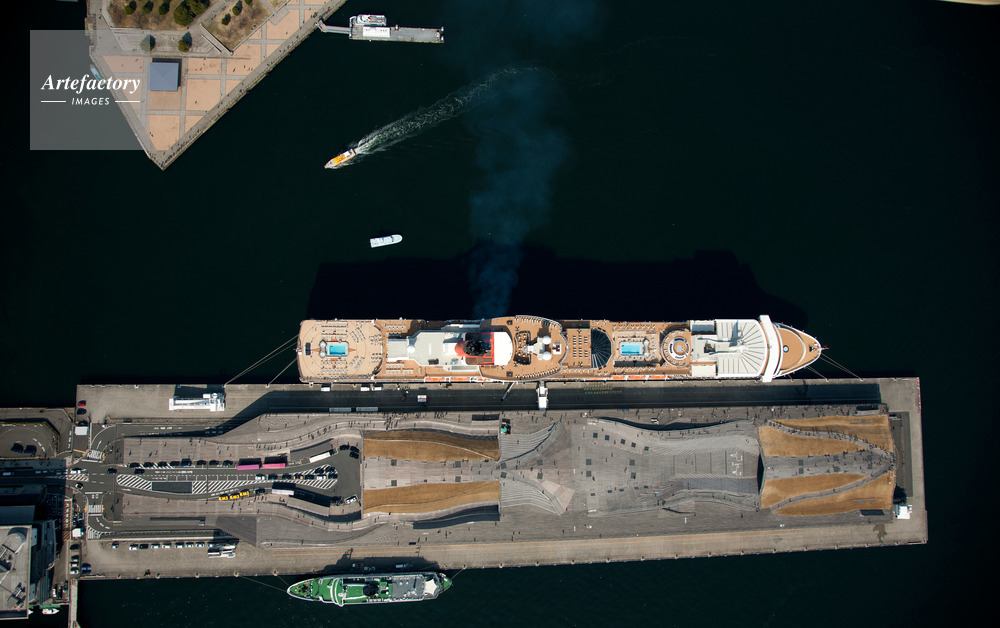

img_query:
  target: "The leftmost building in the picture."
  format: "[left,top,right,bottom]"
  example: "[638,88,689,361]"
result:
[0,504,65,620]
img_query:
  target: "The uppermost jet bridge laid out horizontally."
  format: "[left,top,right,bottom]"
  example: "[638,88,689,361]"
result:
[165,394,229,411]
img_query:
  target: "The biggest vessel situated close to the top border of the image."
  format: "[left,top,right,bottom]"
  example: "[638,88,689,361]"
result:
[355,13,387,25]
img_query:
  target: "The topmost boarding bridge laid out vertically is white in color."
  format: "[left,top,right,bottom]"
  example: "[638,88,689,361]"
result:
[536,381,549,409]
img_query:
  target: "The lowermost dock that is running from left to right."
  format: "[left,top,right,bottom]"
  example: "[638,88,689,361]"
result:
[78,377,928,581]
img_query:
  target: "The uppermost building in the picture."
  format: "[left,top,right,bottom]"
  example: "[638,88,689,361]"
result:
[149,63,180,91]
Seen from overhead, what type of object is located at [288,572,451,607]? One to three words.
ship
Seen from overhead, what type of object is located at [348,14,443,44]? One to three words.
pier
